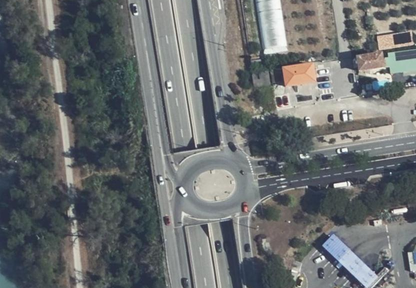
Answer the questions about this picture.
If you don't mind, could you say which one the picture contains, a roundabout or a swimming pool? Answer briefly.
roundabout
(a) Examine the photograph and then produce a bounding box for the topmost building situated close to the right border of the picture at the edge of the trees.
[377,30,415,50]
